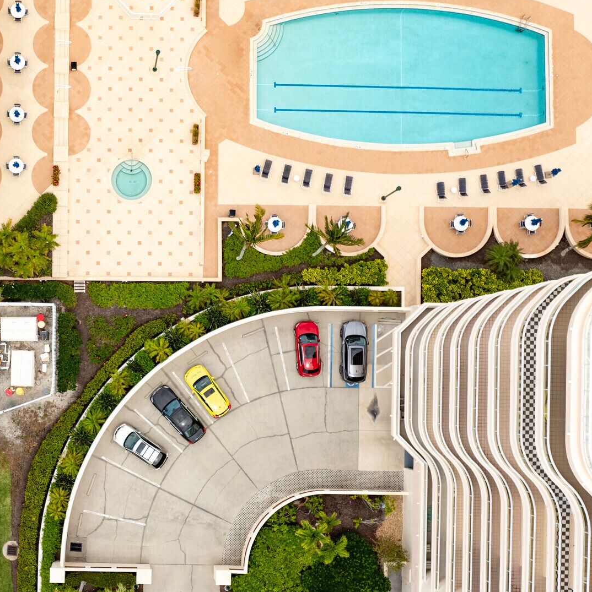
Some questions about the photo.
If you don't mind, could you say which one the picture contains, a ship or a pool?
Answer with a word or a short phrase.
pool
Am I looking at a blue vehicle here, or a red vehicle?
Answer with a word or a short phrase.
red vehicle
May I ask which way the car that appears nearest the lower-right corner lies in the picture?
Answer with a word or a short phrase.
vertically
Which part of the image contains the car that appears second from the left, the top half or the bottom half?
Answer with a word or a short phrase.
bottom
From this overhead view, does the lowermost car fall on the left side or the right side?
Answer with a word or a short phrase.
left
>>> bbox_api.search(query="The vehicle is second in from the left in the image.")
[152,383,205,445]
